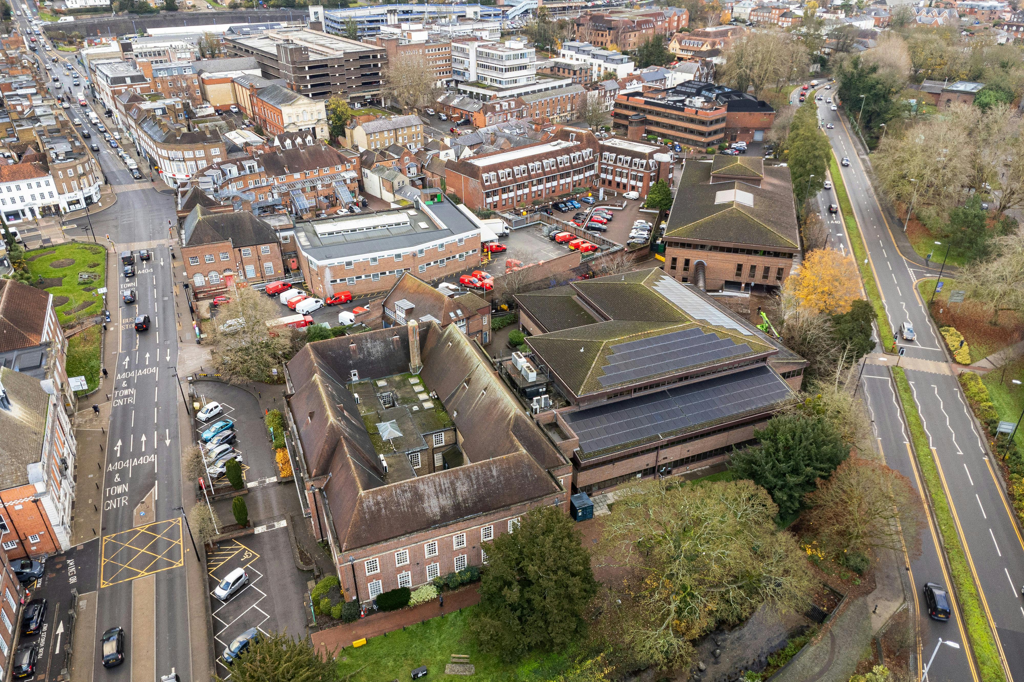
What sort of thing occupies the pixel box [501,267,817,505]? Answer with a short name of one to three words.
building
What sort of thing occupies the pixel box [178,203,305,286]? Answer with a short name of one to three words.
building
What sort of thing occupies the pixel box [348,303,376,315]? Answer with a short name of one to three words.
vehicle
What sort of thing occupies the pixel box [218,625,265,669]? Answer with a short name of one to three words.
car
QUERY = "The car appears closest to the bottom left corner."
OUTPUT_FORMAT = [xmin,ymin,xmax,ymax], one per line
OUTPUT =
[13,642,41,682]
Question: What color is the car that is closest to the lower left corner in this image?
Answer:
black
